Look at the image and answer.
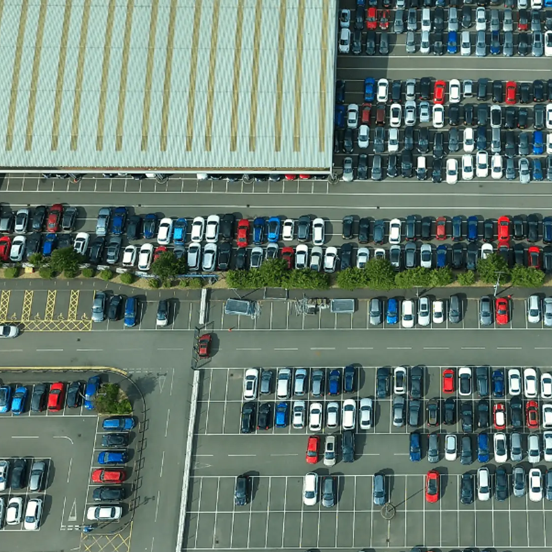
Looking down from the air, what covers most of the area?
paved ground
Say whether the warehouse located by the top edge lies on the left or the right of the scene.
left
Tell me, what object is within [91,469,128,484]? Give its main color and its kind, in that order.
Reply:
red car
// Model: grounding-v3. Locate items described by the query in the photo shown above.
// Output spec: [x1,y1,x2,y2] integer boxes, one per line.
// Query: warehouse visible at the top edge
[0,0,341,181]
